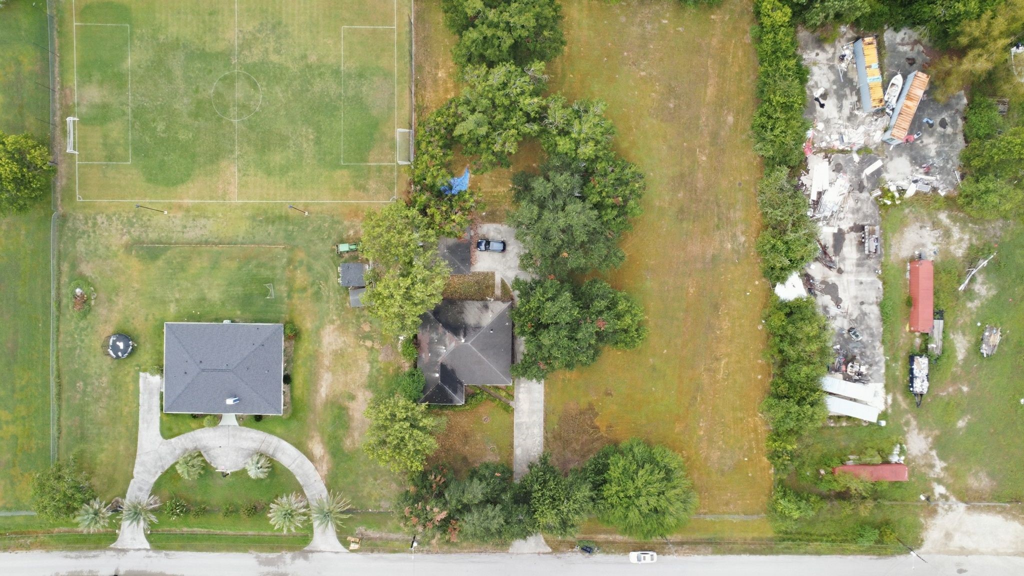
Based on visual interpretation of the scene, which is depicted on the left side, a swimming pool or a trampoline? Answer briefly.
trampoline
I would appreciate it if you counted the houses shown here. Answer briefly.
2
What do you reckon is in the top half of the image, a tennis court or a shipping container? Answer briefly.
shipping container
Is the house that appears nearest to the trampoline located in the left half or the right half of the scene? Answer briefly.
left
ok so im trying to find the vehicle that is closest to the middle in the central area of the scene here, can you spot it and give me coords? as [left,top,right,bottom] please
[478,239,506,252]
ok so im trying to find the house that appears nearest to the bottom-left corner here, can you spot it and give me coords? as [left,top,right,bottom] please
[163,322,285,415]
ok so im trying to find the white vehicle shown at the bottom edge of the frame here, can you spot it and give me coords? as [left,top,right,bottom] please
[629,551,656,565]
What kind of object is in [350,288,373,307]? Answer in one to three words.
shed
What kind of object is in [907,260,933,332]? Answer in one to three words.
shed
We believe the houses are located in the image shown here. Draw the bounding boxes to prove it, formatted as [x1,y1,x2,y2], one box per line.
[163,322,285,415]
[417,301,512,404]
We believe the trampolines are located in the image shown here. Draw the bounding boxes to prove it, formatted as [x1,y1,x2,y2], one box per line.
[101,333,133,360]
